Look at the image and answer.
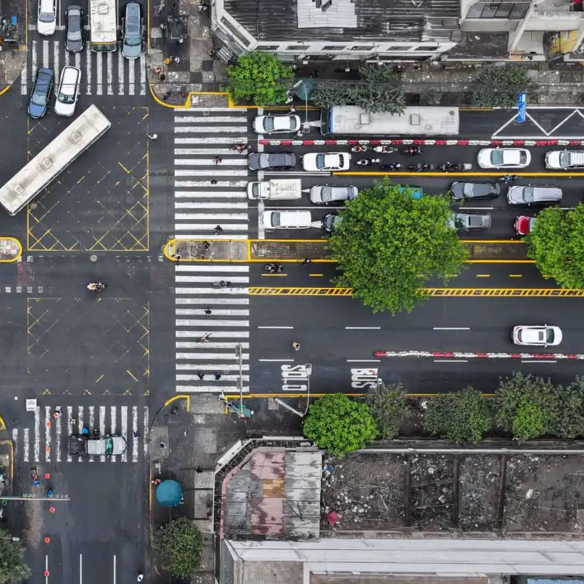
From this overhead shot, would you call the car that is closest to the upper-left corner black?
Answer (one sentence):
No, the color of the car that is closest to the upper-left corner is white.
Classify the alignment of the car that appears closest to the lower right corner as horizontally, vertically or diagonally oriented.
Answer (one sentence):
The car that appears closest to the lower right corner runs horizontally in the image.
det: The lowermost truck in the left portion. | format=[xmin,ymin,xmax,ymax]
[69,434,126,457]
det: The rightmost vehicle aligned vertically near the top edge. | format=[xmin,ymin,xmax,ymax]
[121,0,147,61]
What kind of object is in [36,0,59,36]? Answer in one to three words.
car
